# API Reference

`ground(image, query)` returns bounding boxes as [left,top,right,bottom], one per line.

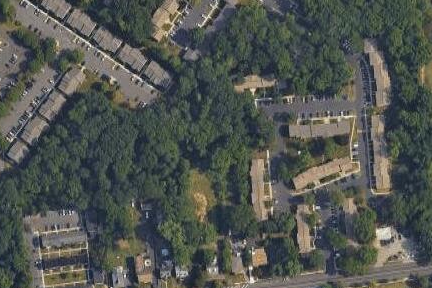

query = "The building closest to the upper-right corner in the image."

[362,39,390,105]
